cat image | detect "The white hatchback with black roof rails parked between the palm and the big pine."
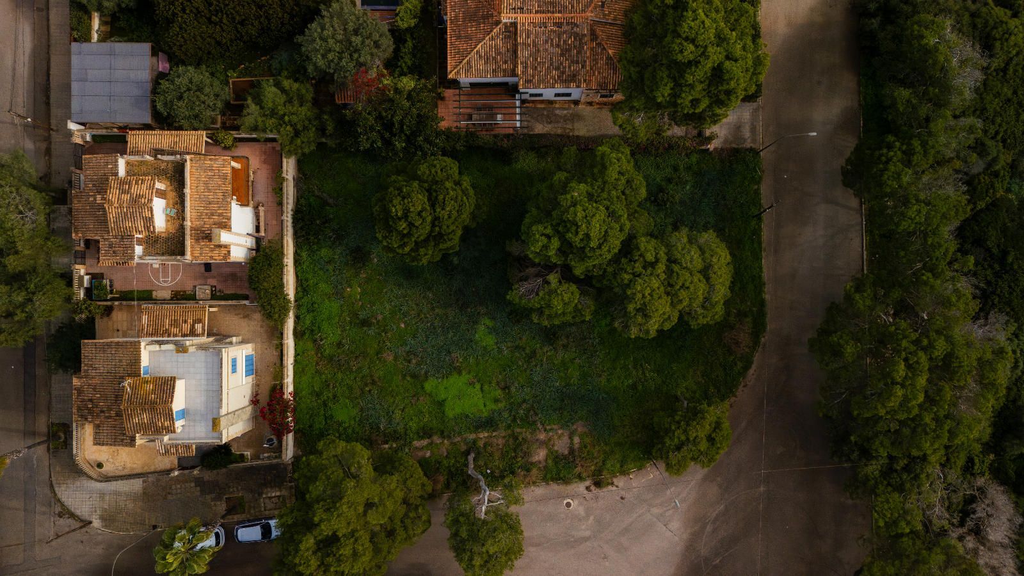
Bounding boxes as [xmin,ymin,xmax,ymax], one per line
[230,520,280,546]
